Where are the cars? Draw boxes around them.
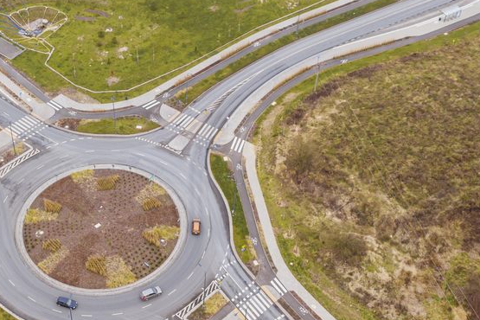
[190,221,201,237]
[53,295,80,311]
[138,284,163,303]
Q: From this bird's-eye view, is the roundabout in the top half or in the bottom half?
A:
bottom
